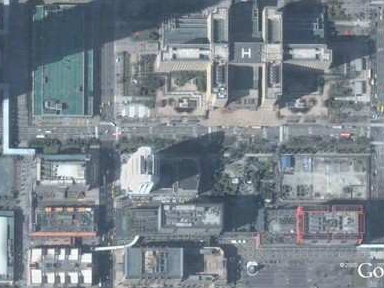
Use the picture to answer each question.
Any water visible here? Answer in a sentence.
No, water can't be seen anywhere here.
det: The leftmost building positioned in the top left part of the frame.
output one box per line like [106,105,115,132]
[33,5,94,118]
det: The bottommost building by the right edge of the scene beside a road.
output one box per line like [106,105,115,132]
[295,205,365,248]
